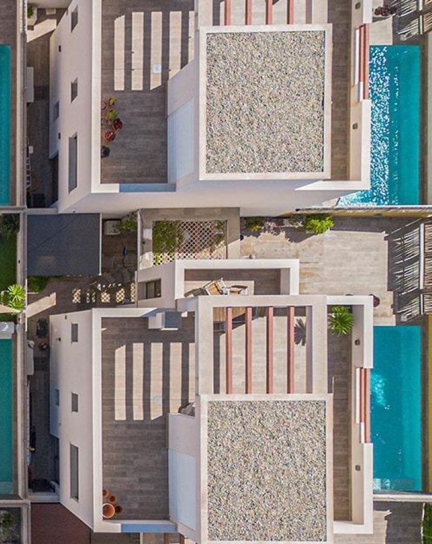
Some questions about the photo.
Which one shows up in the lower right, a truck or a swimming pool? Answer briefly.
swimming pool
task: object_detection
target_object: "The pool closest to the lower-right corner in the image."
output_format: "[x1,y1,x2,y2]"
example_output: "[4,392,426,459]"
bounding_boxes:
[359,324,422,488]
